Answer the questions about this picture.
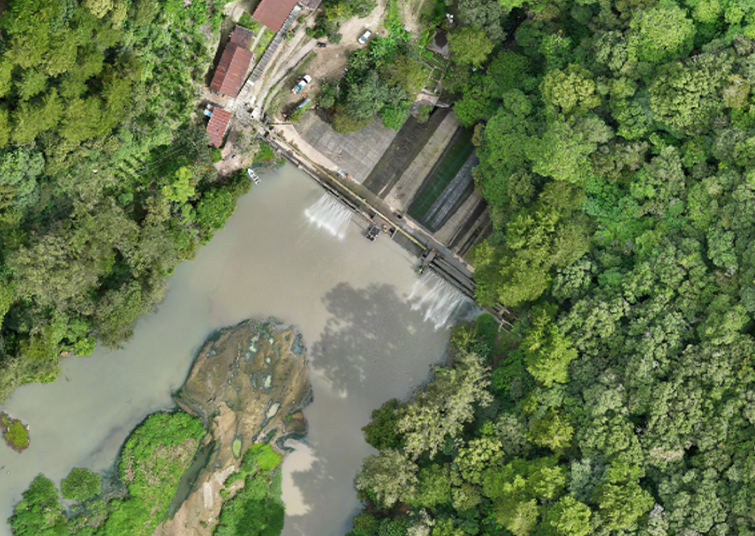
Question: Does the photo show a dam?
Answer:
Yes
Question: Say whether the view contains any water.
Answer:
Yes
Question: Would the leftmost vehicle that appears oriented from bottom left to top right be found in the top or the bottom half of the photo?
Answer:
top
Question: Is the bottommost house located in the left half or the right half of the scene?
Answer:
left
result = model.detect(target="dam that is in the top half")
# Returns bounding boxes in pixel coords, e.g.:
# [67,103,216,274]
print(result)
[264,117,490,306]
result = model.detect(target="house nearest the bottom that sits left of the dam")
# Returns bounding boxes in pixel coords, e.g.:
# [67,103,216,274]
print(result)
[205,107,234,147]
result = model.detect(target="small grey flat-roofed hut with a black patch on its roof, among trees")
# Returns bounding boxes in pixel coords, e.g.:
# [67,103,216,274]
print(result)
[427,27,449,59]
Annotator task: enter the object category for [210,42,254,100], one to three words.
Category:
house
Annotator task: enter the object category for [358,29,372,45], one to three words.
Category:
vehicle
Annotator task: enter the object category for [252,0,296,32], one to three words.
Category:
house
